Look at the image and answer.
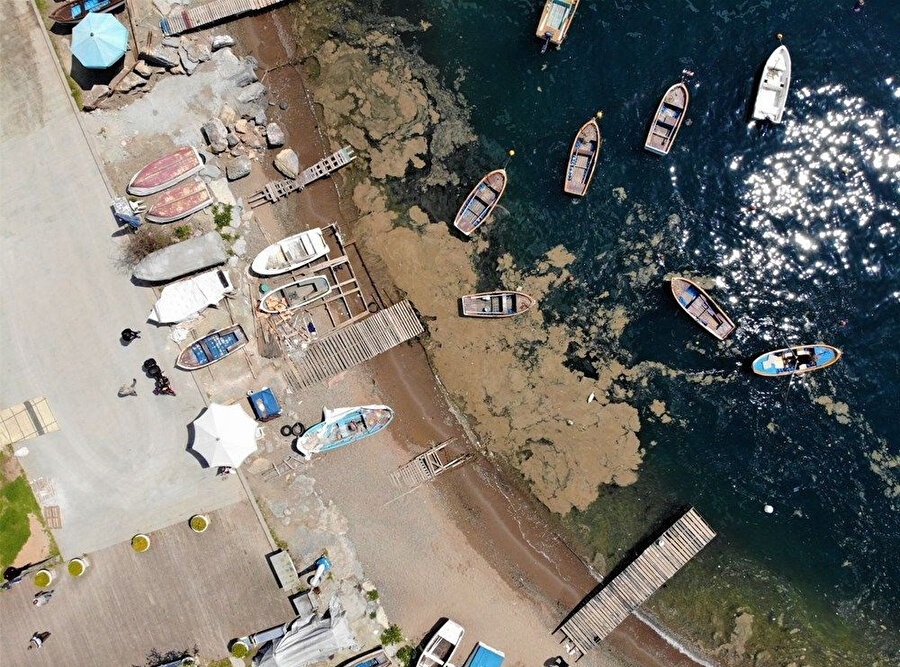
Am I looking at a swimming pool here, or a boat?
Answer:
boat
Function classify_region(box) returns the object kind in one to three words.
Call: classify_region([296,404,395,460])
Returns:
boat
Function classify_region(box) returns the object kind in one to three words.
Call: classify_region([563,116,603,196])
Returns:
boat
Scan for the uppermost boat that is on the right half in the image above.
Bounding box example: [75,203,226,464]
[532,0,580,47]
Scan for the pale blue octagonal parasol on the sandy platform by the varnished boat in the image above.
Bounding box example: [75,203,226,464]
[72,13,130,69]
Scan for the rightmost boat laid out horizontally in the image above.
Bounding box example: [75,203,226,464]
[748,342,846,375]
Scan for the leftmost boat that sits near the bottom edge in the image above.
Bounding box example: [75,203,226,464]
[255,591,358,667]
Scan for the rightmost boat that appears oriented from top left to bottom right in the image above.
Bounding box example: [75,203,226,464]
[669,277,732,341]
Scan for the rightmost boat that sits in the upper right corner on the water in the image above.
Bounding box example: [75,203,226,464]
[751,41,793,128]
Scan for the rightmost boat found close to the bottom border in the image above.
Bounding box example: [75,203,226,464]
[465,638,505,667]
